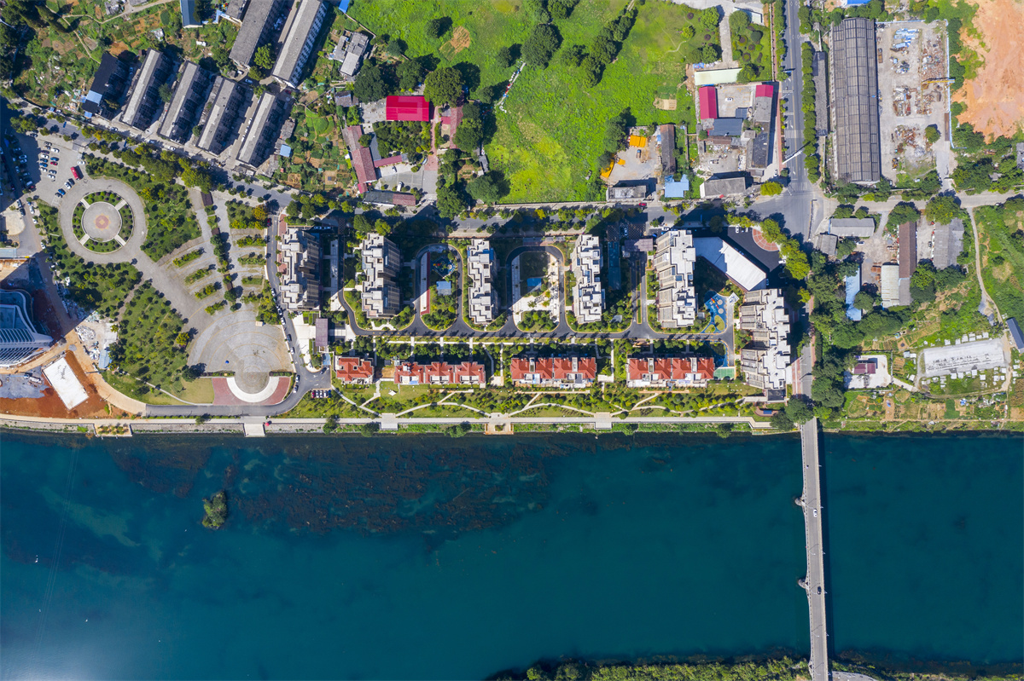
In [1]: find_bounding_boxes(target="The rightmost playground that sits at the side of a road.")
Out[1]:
[702,291,728,333]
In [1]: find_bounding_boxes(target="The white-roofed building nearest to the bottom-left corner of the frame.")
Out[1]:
[42,357,93,411]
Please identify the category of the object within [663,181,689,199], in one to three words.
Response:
shed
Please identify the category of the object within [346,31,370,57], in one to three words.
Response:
house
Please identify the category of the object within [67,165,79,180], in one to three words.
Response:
vehicle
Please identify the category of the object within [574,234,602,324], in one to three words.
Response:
building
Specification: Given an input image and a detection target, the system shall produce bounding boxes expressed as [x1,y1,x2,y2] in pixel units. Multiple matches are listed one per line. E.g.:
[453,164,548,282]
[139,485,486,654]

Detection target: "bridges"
[789,419,829,681]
